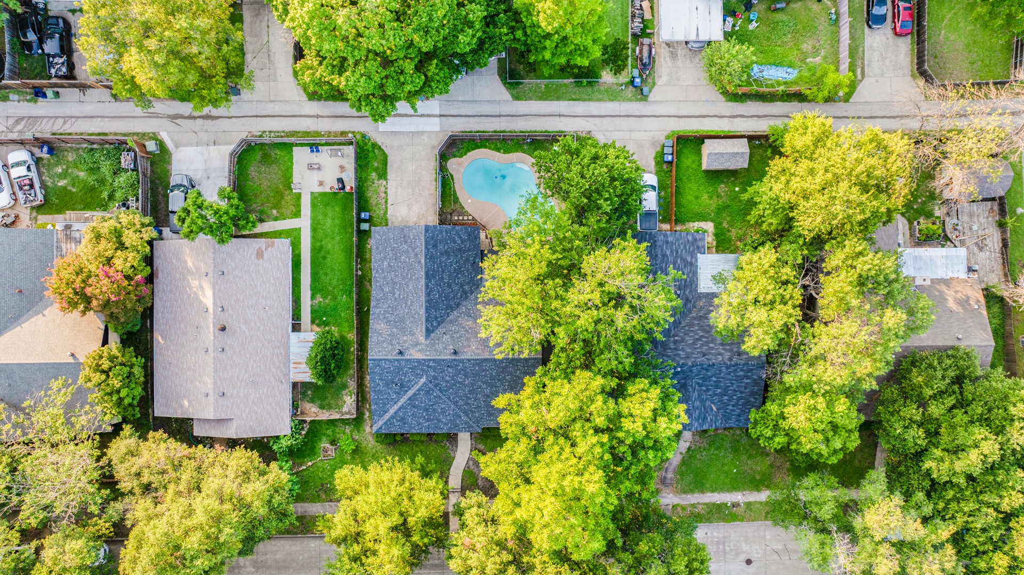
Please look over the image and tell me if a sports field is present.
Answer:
No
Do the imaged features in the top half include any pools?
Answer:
Yes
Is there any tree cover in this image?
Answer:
Yes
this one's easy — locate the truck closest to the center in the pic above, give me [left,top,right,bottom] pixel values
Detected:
[634,174,661,231]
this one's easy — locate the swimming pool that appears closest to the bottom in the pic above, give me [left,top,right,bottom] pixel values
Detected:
[462,158,556,236]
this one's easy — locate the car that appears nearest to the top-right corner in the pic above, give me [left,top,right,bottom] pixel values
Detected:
[885,0,914,38]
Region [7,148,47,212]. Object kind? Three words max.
truck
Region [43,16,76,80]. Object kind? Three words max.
truck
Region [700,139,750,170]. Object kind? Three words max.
shed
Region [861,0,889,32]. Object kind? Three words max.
car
